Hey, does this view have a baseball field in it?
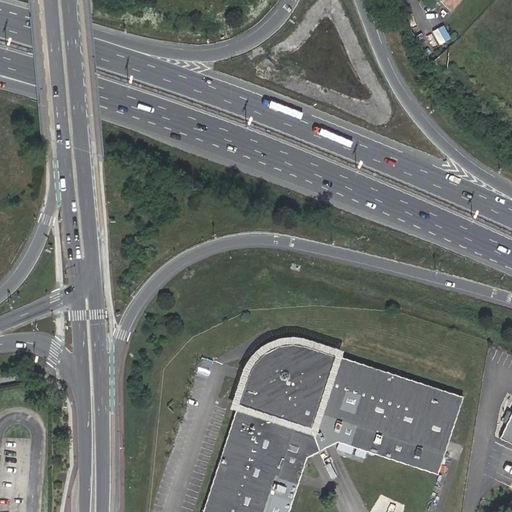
No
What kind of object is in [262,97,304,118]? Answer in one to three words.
truck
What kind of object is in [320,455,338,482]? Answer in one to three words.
vehicle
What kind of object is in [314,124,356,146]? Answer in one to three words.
truck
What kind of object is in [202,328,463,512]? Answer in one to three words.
building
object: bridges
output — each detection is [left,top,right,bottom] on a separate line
[30,0,104,158]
